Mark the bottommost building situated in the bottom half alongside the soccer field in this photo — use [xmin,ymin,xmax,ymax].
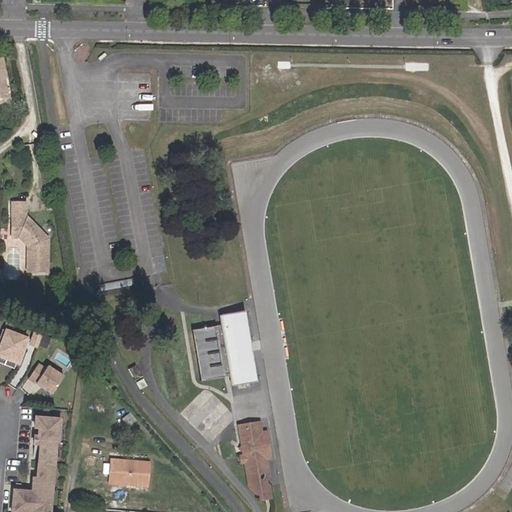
[238,421,279,502]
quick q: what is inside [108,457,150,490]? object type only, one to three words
house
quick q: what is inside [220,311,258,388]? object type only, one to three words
building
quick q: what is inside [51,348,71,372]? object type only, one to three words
swimming pool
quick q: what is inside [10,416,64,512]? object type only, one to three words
house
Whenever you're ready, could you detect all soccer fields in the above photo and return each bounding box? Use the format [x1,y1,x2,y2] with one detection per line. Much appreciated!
[264,138,497,510]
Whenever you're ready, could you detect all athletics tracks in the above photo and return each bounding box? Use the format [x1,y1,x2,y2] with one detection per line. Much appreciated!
[231,117,512,512]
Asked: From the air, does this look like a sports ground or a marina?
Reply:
sports ground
